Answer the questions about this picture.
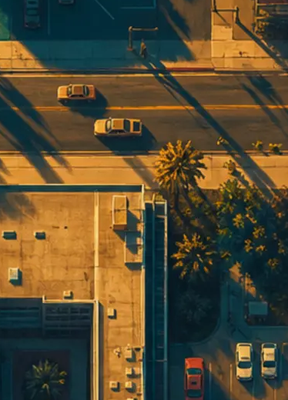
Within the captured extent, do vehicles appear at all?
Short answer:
Yes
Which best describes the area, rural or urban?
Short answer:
urban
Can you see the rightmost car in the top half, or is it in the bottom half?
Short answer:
bottom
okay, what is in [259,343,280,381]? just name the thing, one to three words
car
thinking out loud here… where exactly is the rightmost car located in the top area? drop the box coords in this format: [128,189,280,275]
[94,118,143,137]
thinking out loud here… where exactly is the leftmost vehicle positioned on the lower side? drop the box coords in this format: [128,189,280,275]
[183,358,206,400]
